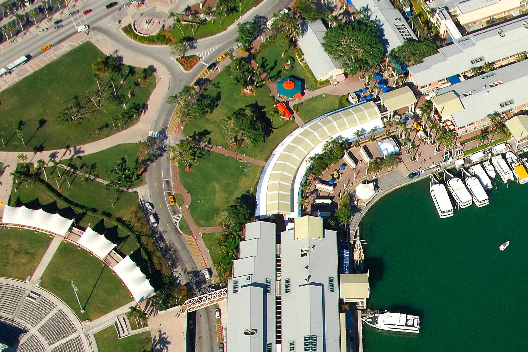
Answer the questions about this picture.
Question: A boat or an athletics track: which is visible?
boat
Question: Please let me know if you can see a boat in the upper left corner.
No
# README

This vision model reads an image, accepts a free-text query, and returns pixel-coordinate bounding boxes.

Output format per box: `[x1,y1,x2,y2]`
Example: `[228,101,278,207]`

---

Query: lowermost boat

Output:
[362,312,422,330]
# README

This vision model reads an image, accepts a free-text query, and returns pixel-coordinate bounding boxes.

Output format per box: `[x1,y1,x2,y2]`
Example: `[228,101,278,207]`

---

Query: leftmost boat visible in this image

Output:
[345,221,372,273]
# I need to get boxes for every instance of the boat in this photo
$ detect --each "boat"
[496,158,514,185]
[484,161,496,180]
[444,167,471,211]
[362,312,422,330]
[430,173,451,219]
[510,154,528,186]
[462,167,488,210]
[345,221,372,273]
[499,241,509,253]
[469,157,494,191]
